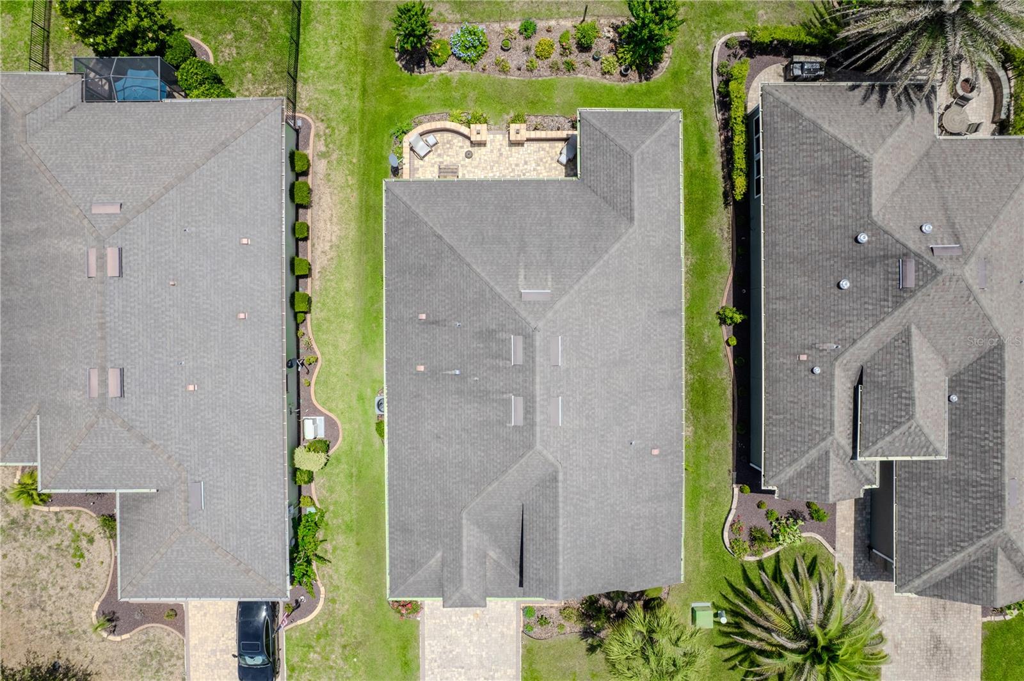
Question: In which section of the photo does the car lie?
bottom left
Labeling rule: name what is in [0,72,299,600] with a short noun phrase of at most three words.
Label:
house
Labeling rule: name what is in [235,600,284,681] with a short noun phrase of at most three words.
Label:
car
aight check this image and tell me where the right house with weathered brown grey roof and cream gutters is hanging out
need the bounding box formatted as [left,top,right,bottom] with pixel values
[748,83,1024,607]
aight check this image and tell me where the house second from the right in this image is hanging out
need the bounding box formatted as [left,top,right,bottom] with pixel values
[384,109,684,608]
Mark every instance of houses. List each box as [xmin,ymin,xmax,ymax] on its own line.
[384,109,684,608]
[0,72,299,600]
[748,83,1024,607]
